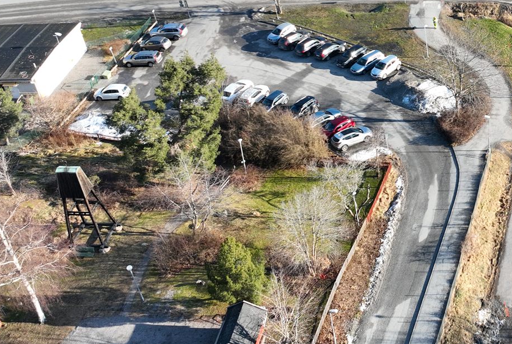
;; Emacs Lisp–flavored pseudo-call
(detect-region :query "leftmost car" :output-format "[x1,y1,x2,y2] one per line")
[91,84,132,102]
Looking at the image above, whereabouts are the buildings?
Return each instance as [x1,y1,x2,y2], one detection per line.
[213,300,268,344]
[0,22,85,104]
[54,162,127,253]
